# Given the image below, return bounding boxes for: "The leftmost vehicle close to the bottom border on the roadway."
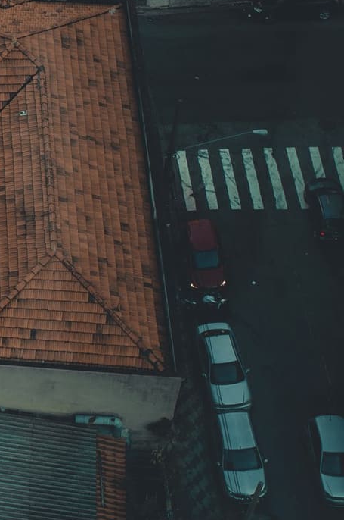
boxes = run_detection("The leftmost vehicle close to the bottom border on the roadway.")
[210,412,272,505]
